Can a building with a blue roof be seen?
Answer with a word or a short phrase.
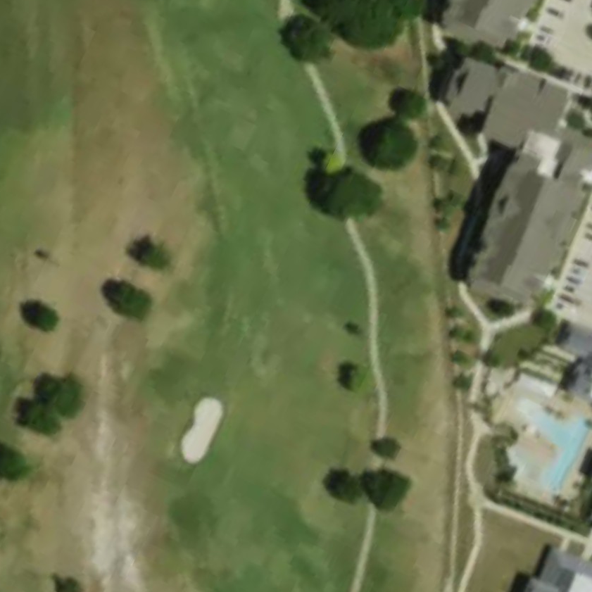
No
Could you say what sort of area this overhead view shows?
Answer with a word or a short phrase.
golf course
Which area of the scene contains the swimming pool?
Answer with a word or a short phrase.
bottom right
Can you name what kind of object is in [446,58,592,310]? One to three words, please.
building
